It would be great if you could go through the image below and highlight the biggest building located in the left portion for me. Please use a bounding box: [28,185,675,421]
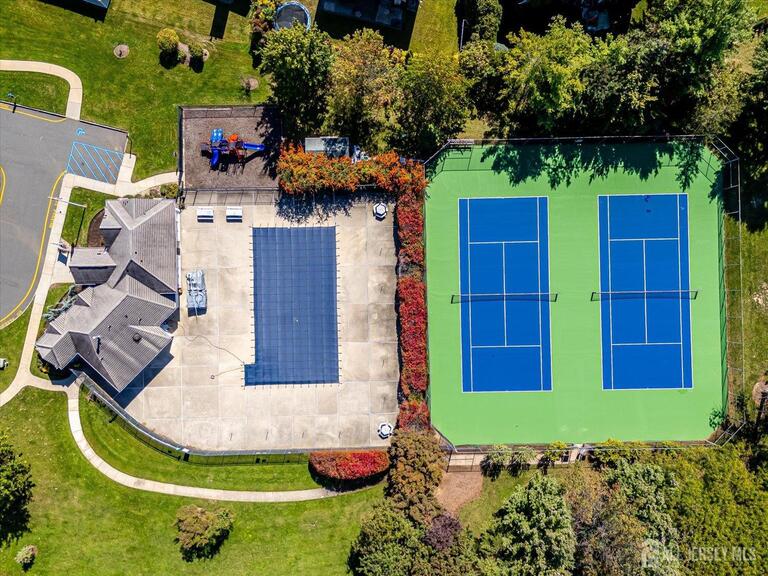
[35,196,183,391]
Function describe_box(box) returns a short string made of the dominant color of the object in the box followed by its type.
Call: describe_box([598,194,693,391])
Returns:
blue tennis court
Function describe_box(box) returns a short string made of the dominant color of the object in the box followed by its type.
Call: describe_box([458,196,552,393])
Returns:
blue tennis court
